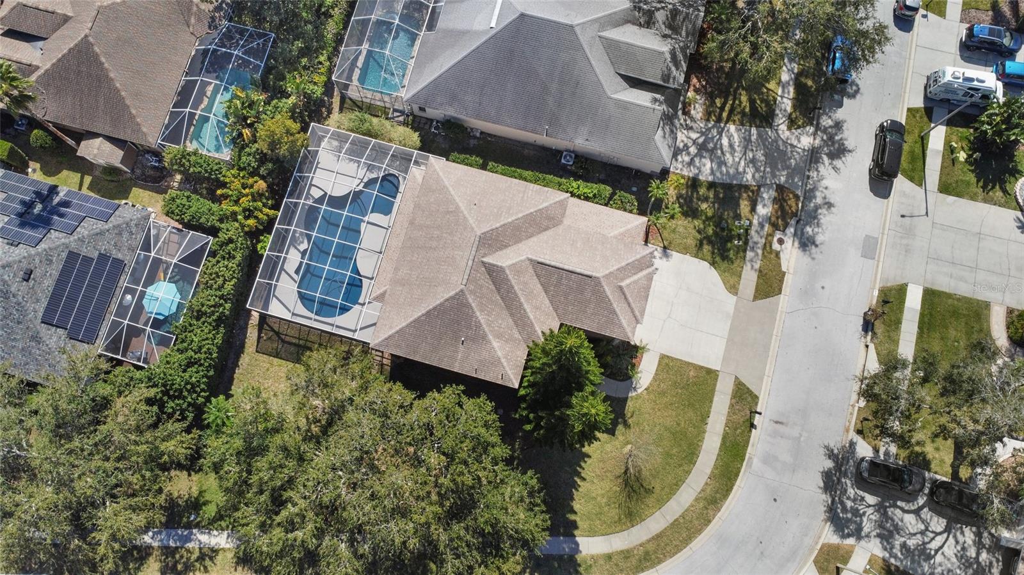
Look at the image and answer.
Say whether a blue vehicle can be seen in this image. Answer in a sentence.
Yes, the picture does show a blue vehicle.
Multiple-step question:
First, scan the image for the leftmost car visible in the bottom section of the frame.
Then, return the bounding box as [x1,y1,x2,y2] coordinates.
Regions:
[852,461,925,503]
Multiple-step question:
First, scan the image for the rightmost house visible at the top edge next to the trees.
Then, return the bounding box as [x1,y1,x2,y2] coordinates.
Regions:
[404,0,704,173]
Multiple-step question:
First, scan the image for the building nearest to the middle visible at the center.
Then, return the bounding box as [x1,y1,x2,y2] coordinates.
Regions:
[366,156,659,389]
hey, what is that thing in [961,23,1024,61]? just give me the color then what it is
blue car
